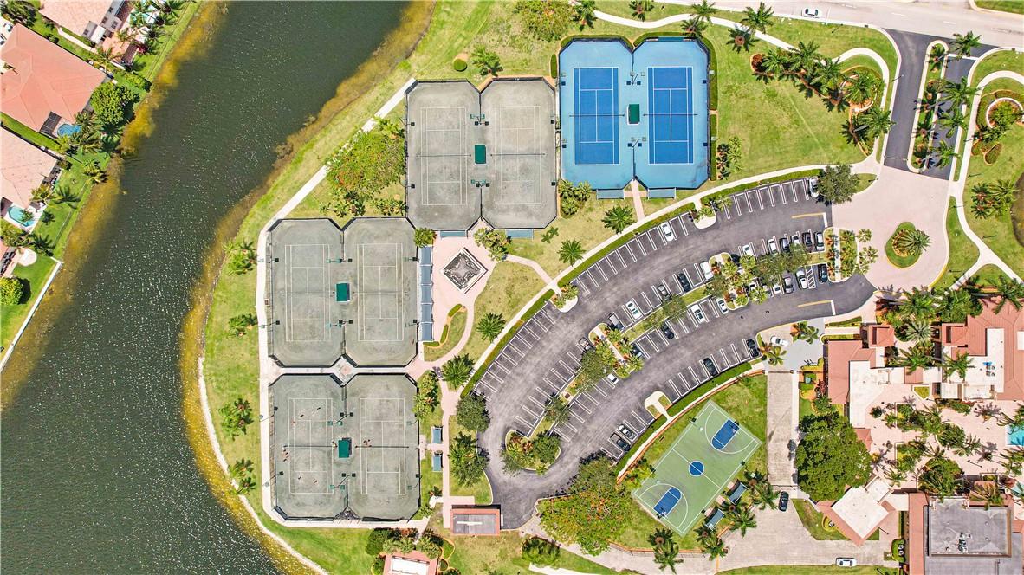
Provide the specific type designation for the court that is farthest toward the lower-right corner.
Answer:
basketball court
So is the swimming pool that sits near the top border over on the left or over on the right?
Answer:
left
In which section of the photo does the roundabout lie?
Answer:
right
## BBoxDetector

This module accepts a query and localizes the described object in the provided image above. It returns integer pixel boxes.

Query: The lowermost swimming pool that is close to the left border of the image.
[3,201,47,232]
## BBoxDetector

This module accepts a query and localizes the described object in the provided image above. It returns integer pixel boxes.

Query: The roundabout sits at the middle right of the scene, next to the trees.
[832,165,948,295]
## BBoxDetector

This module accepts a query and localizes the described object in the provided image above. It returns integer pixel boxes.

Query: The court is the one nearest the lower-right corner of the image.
[631,400,763,536]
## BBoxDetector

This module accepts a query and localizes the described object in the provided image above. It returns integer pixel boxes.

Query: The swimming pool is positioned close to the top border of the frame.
[123,0,168,43]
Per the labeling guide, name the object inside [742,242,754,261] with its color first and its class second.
white vehicle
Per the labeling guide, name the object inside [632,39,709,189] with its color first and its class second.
blue tennis court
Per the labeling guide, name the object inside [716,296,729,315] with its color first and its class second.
white vehicle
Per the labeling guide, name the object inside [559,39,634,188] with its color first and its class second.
blue tennis court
